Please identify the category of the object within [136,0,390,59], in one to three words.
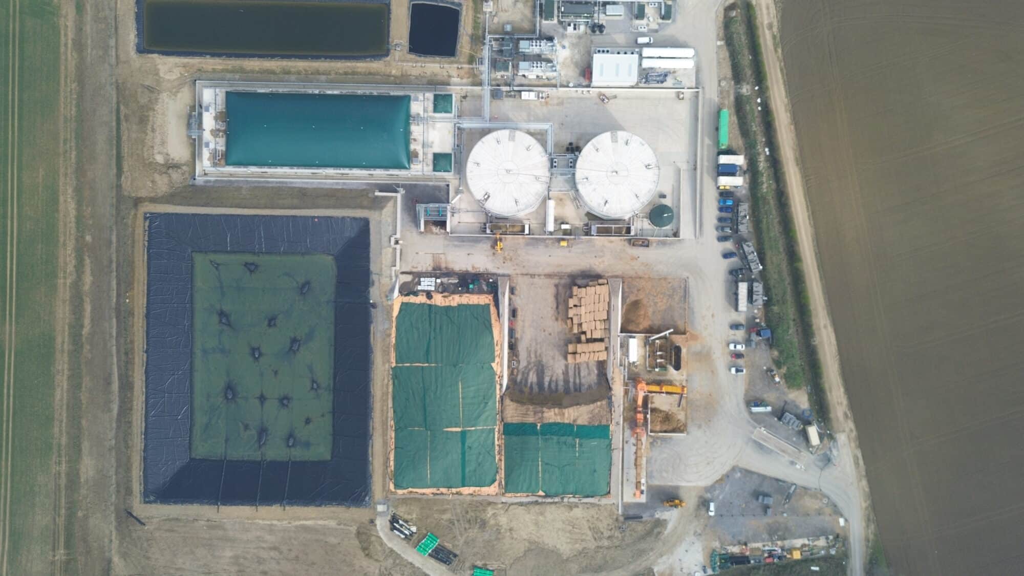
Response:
pond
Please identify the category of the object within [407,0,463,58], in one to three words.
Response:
pond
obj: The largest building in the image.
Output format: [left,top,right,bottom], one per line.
[591,54,639,87]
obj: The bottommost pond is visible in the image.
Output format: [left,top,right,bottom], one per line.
[144,213,372,512]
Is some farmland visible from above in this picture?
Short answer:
Yes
